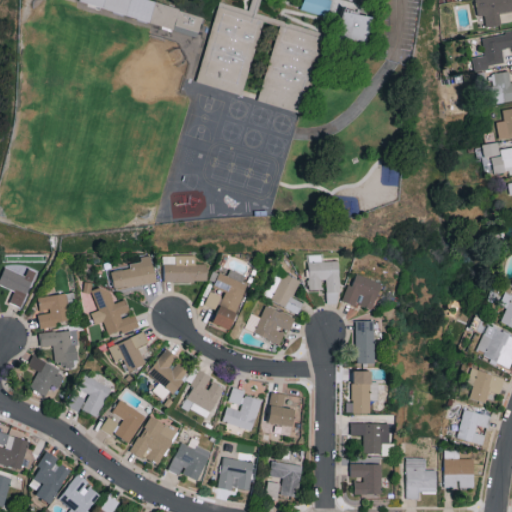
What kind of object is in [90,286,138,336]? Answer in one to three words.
house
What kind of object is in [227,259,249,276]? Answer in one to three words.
swimming pool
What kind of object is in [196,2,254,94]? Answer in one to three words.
building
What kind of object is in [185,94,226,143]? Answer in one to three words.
basketball court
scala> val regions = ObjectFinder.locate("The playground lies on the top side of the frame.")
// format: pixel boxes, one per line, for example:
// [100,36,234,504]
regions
[170,190,206,219]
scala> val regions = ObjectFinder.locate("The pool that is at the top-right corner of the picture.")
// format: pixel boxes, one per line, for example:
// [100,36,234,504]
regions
[457,8,470,28]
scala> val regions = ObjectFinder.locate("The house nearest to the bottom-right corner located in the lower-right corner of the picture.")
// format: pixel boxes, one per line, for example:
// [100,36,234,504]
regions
[444,451,476,489]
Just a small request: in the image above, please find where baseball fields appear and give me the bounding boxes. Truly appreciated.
[0,0,190,234]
